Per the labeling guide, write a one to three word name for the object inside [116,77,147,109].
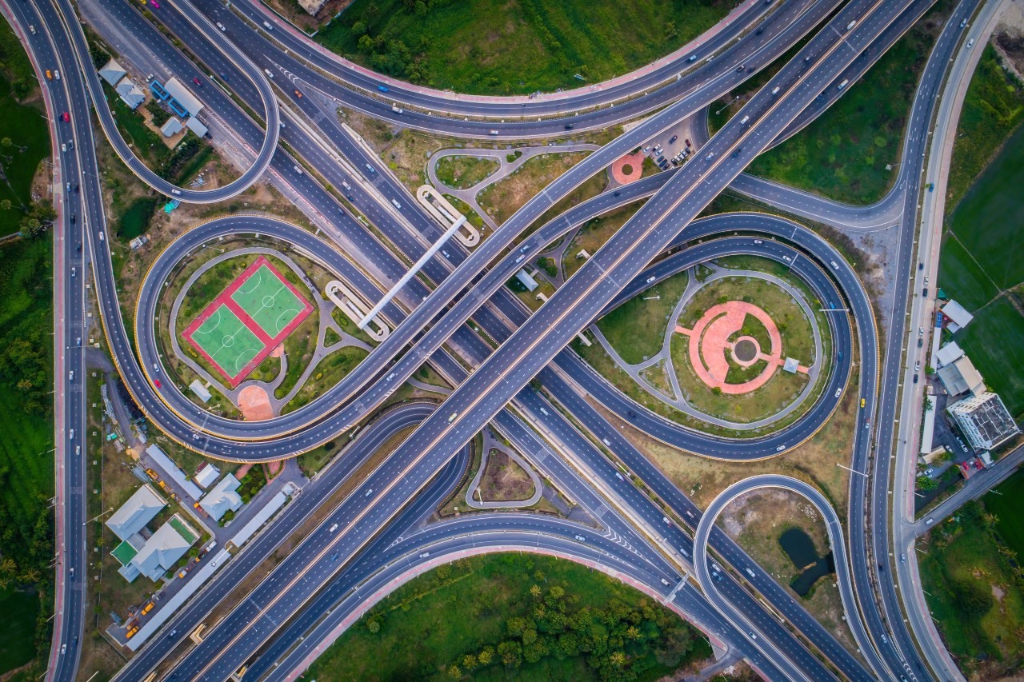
building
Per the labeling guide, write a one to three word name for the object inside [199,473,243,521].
house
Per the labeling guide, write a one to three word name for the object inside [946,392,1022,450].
building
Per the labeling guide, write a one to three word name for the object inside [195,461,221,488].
house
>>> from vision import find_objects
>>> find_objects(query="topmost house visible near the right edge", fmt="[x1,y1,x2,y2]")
[937,299,973,333]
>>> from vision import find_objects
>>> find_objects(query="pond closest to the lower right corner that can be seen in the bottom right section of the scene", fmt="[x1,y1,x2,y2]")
[780,528,834,597]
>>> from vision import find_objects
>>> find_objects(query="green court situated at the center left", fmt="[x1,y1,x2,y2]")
[182,256,314,387]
